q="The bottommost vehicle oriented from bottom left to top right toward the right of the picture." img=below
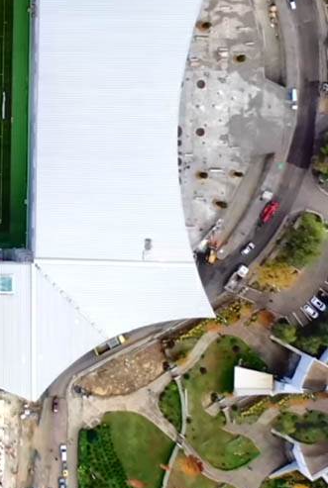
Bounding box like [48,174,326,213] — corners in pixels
[224,264,253,293]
